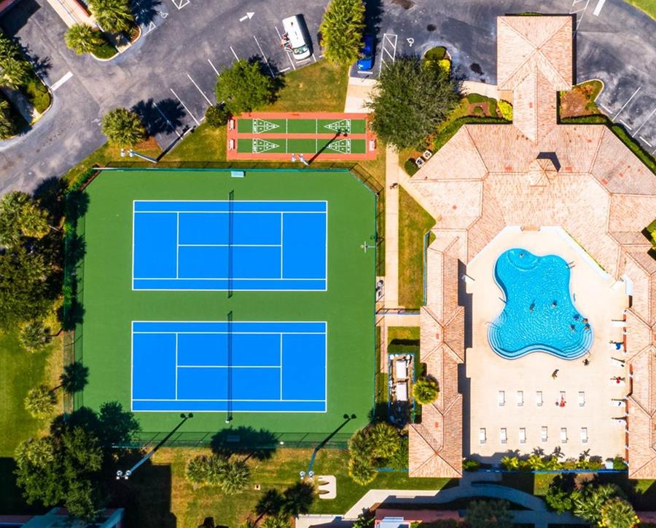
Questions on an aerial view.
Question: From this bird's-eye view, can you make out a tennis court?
Yes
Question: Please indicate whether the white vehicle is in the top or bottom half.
top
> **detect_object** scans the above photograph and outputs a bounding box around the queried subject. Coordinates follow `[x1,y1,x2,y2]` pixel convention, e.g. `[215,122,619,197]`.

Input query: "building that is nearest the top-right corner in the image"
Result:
[409,15,656,479]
